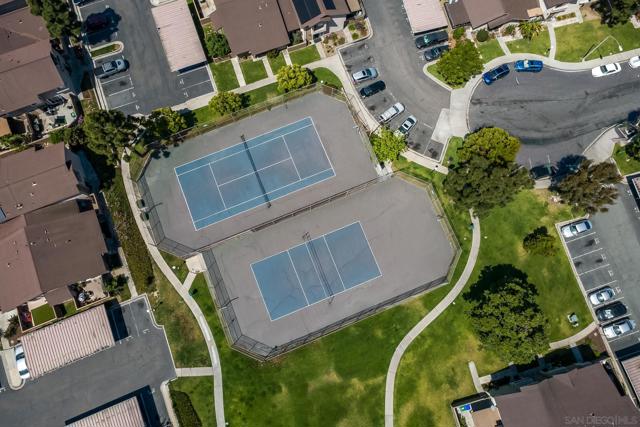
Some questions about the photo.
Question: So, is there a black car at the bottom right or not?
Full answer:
Yes, a black car appears at the bottom right.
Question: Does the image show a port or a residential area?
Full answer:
The picture captures a residential area.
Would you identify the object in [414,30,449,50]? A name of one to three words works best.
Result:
vehicle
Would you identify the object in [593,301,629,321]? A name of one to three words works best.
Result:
car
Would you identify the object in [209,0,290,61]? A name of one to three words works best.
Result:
house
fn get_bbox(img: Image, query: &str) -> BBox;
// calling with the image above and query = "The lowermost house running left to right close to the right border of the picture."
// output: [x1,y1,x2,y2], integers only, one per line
[484,361,640,427]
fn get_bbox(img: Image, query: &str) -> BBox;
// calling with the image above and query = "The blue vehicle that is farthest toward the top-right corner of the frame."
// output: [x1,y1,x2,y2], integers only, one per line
[514,58,543,74]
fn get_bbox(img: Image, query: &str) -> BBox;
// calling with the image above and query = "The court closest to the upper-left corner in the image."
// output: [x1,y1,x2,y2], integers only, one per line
[136,86,379,256]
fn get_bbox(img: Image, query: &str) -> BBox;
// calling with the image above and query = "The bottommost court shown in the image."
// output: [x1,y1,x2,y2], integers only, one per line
[202,171,461,361]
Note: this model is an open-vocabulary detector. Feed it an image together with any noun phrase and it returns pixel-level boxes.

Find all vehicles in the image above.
[585,286,618,306]
[627,56,640,70]
[11,346,29,380]
[600,316,635,338]
[414,30,449,50]
[422,43,448,62]
[590,63,622,79]
[514,58,543,74]
[359,79,386,98]
[394,113,419,138]
[529,164,555,179]
[560,219,594,238]
[481,64,510,84]
[378,101,407,125]
[593,301,629,321]
[351,66,379,84]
